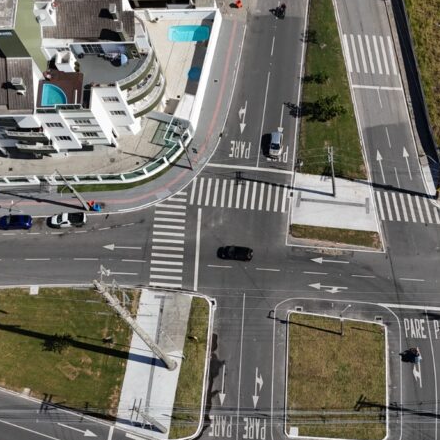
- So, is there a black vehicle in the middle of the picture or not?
Yes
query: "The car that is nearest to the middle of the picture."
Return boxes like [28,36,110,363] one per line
[217,242,254,262]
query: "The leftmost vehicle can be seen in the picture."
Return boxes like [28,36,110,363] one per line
[0,212,31,230]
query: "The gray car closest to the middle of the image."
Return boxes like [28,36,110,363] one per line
[266,128,283,158]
